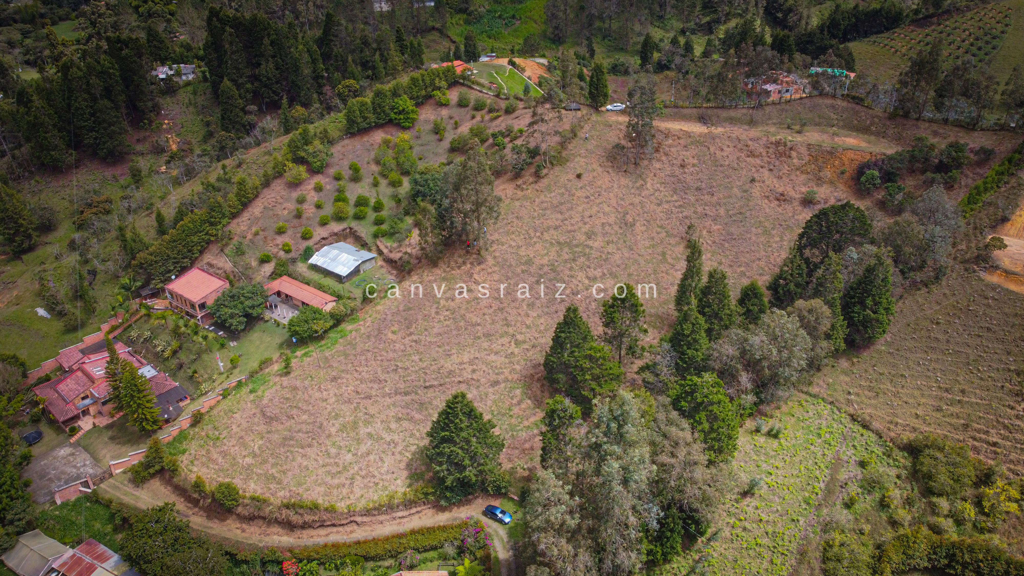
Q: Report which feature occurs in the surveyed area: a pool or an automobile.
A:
automobile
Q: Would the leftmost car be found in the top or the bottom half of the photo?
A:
bottom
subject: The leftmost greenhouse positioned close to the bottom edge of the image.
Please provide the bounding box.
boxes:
[6,529,71,576]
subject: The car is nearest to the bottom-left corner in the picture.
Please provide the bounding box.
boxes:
[481,500,517,525]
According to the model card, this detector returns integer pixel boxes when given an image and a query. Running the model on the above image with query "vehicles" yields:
[605,103,626,111]
[481,500,517,525]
